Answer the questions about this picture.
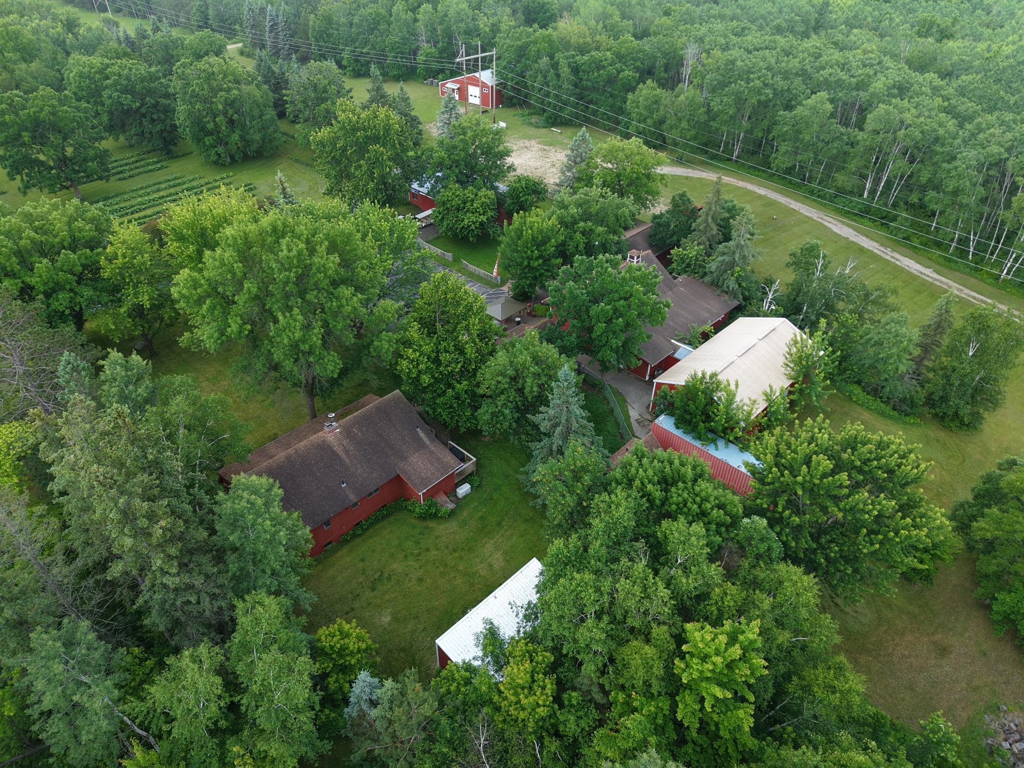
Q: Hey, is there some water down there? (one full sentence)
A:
No, the picture contains no water.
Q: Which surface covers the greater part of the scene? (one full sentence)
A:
The largest share of the image is taken up by trees.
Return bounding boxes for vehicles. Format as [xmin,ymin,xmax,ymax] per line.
[413,208,438,230]
[394,206,411,225]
